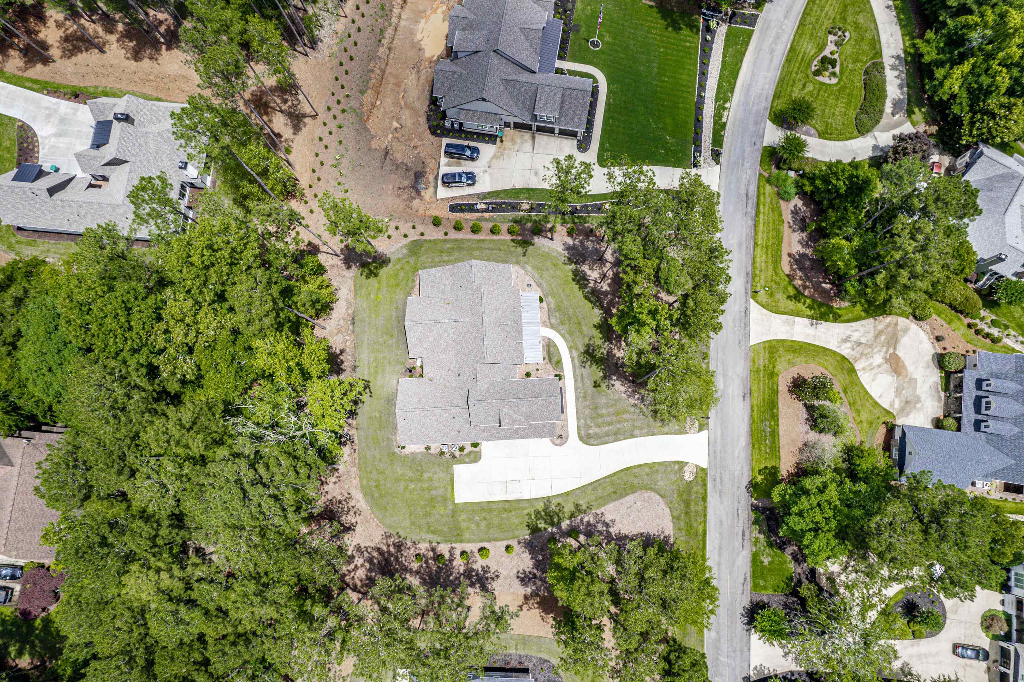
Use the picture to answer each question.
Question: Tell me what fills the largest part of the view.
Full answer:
For the most part, this view shows trees.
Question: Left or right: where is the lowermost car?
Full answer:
You can find the lowermost car on the right side of the picture.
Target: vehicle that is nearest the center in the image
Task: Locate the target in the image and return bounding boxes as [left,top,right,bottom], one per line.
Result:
[443,171,475,188]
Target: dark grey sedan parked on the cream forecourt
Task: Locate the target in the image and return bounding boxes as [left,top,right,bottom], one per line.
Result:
[954,642,990,665]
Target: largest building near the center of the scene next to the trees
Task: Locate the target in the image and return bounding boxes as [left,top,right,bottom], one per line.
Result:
[396,260,564,446]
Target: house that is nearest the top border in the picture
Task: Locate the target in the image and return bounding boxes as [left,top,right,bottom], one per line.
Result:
[433,0,593,138]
